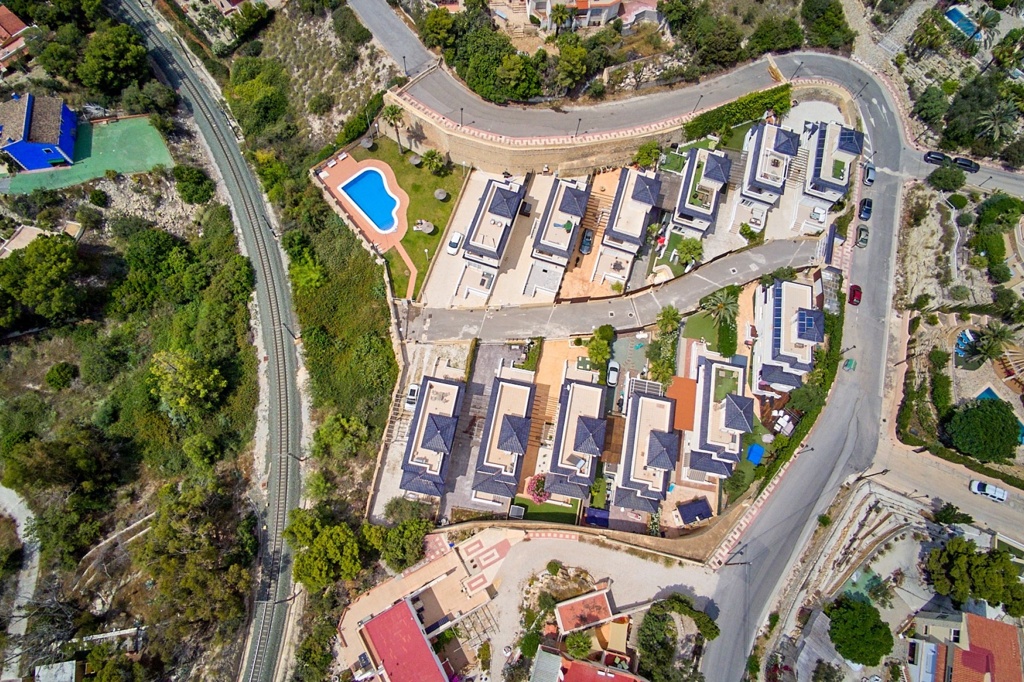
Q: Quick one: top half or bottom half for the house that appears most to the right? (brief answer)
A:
bottom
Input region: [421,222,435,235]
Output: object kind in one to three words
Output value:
umbrella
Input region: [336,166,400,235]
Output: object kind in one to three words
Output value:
swimming pool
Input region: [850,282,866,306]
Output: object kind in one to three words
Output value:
car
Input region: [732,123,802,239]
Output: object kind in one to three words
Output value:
house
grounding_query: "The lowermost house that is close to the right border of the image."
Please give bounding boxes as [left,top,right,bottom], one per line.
[890,611,1024,682]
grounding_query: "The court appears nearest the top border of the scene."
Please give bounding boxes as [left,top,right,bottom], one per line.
[0,115,176,194]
